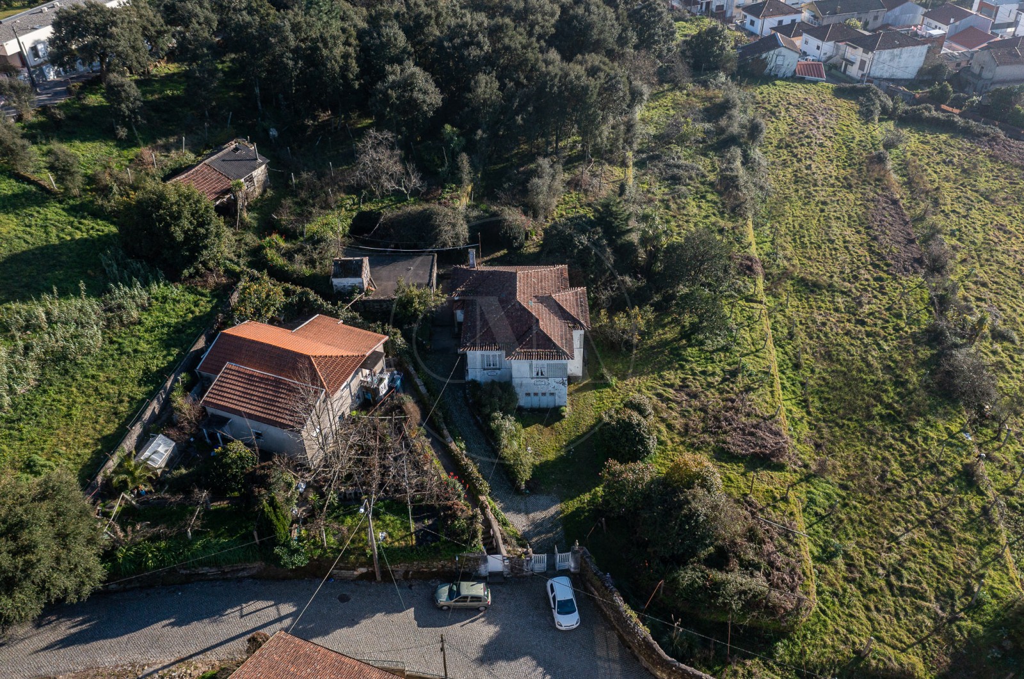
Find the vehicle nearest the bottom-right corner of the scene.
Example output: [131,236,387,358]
[546,574,579,630]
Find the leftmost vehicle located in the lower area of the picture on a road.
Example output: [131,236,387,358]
[435,578,492,610]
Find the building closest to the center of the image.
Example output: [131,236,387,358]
[442,249,593,410]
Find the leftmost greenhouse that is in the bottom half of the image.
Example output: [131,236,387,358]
[141,433,178,476]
